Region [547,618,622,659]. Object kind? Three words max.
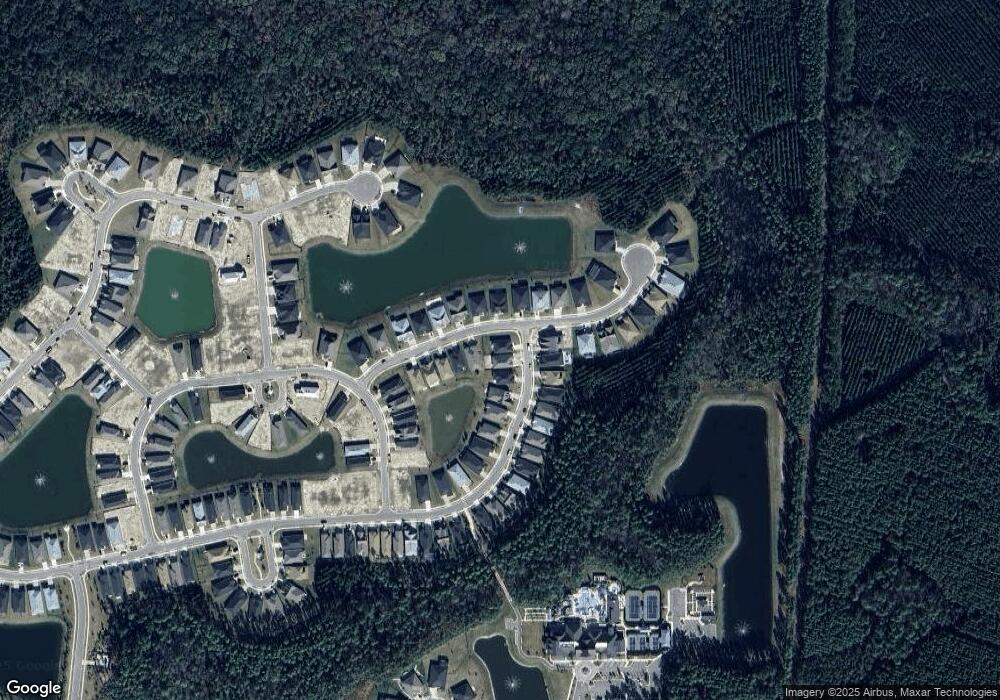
building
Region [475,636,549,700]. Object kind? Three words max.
pond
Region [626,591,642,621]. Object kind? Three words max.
tennis court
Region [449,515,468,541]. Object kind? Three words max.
house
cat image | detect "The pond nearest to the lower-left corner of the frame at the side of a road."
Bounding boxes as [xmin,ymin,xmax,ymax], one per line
[0,622,61,690]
